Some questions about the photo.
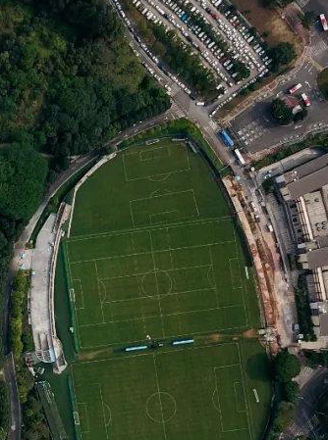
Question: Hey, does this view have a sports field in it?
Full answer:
Yes, there's a sports field here.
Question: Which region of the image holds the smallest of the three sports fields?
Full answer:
The smallest of the three sports fields is located in the center region of the scene.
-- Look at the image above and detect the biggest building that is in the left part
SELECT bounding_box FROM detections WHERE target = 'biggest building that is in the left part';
[25,203,72,374]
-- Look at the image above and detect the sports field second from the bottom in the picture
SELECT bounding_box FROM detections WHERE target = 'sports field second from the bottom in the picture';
[66,216,249,349]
